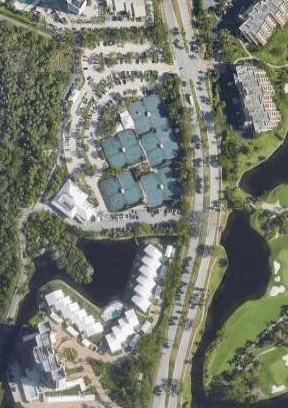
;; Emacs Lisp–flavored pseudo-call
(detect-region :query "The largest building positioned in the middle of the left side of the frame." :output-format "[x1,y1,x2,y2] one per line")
[52,180,95,223]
